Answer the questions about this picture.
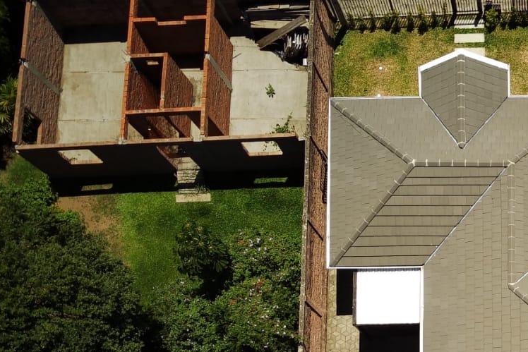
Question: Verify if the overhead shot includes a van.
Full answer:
No, there's no van here.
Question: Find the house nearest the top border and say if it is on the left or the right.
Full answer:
It is on the left.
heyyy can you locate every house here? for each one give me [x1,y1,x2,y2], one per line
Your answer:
[8,0,310,194]
[321,44,528,352]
